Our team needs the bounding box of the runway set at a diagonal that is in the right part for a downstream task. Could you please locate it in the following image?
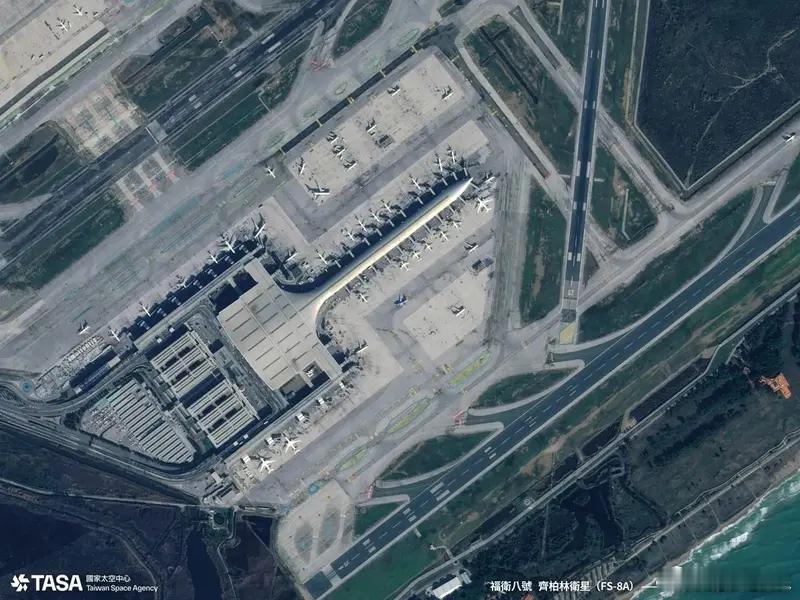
[299,196,800,600]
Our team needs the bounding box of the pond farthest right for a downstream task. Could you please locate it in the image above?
[552,485,626,555]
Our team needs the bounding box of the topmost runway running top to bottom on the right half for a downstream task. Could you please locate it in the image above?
[559,0,609,345]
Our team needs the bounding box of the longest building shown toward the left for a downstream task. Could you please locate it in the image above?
[133,177,473,467]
